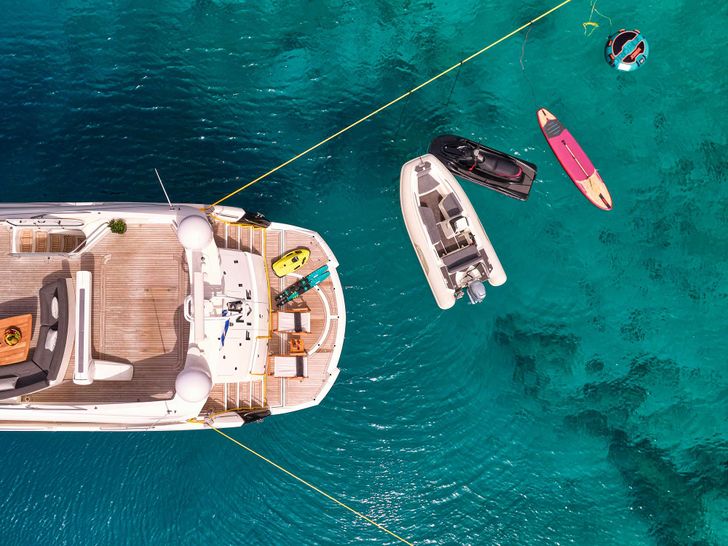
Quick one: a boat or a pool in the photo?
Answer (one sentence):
The image shows a boat.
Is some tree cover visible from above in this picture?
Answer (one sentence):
No, there's no tree cover in this view.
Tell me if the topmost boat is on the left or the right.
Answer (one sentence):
The topmost boat is on the right side of the image.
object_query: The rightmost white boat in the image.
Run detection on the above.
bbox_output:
[400,153,506,306]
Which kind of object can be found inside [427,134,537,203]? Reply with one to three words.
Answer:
boat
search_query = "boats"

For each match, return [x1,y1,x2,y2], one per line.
[400,153,506,306]
[0,169,346,432]
[427,134,537,203]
